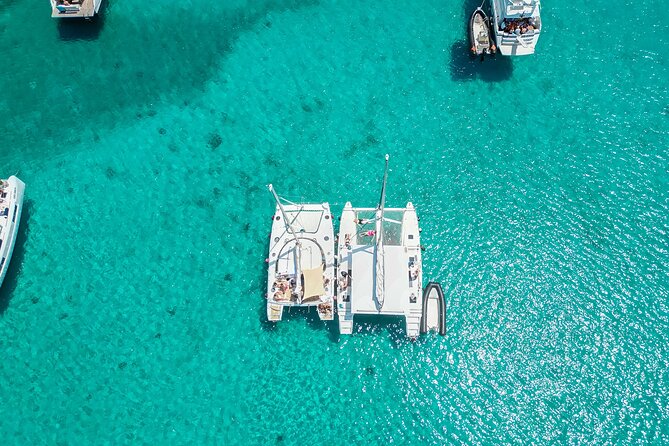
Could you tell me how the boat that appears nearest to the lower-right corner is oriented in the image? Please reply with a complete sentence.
What the image shows is the boat that appears nearest to the lower-right corner lying vertically.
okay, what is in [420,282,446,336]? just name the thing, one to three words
boat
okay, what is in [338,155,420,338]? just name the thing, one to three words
boat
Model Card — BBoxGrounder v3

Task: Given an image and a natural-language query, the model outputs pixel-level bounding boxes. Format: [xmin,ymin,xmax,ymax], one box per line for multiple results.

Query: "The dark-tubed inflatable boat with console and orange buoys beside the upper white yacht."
[471,6,497,63]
